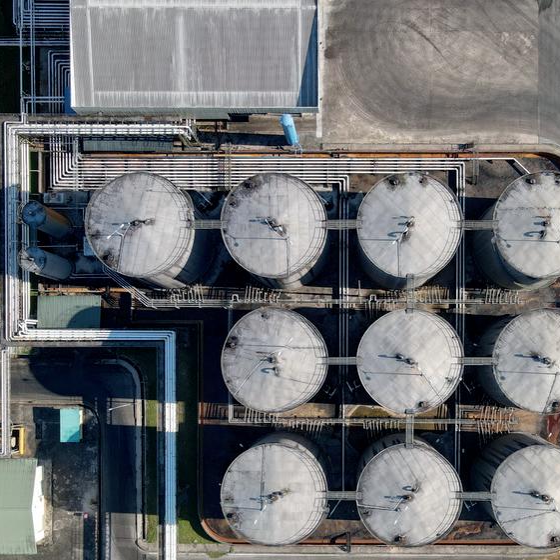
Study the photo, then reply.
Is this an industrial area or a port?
industrial area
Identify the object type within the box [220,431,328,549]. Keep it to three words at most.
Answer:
storage tank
